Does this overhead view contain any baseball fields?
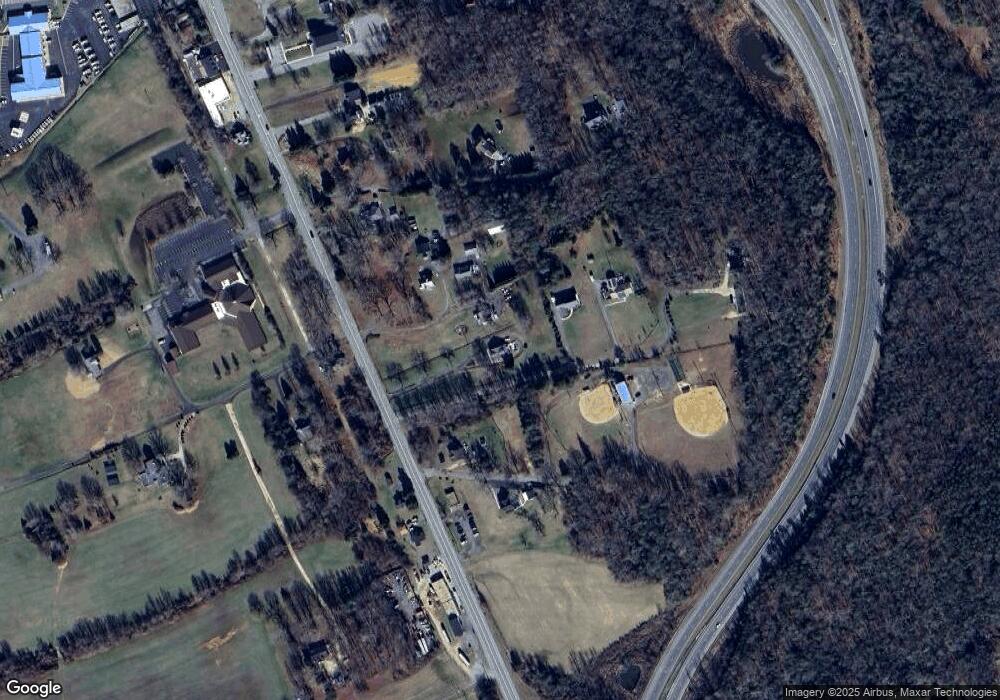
Yes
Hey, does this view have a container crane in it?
No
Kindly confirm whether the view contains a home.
Yes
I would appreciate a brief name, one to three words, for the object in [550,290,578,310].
house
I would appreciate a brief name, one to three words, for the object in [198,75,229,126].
building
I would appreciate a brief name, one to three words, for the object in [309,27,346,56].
building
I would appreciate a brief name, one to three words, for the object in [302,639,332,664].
house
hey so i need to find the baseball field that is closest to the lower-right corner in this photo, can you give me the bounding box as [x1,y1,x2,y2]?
[634,384,737,473]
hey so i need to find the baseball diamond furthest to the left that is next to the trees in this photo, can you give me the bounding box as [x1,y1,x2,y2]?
[546,382,628,452]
